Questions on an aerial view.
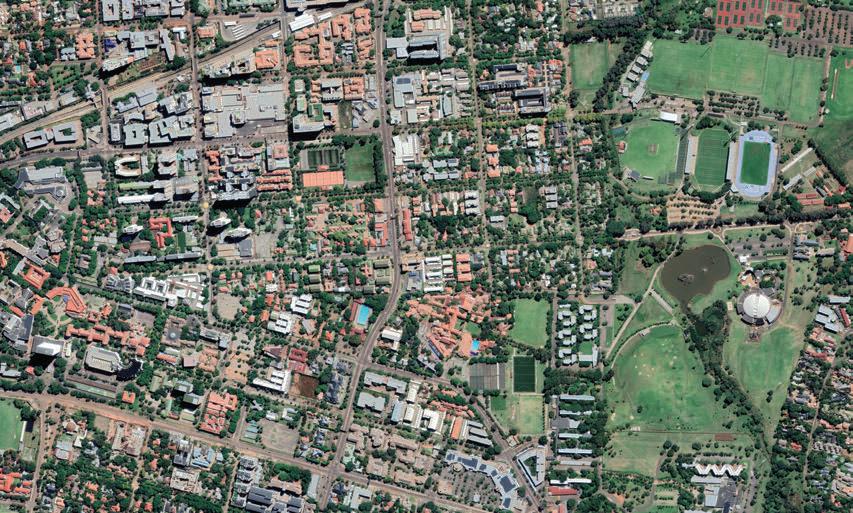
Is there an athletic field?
Yes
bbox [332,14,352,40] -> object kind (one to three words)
building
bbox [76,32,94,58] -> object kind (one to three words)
building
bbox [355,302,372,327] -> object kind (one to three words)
swimming pool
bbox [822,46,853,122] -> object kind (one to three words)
sports field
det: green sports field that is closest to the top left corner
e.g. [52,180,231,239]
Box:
[345,143,374,180]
